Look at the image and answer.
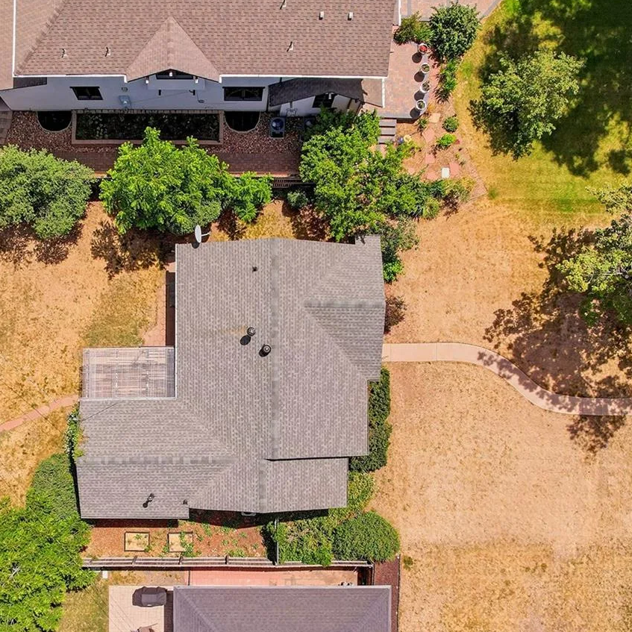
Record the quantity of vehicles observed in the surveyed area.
0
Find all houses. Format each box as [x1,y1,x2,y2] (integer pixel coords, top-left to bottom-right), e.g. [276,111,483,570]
[170,583,392,632]
[0,0,403,117]
[77,236,385,520]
